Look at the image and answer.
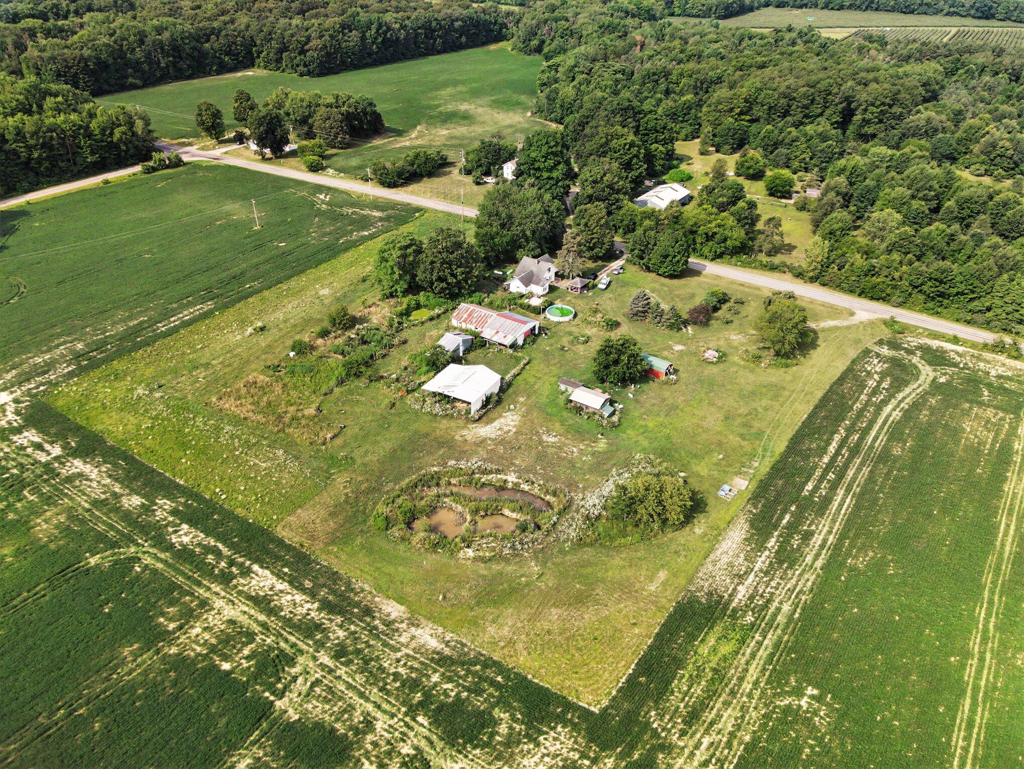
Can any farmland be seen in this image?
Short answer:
Yes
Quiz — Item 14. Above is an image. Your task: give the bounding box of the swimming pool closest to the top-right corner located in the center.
[546,303,574,322]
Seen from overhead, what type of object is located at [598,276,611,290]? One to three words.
vehicle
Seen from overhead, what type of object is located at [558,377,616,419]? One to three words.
shed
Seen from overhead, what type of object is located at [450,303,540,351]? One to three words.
barn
